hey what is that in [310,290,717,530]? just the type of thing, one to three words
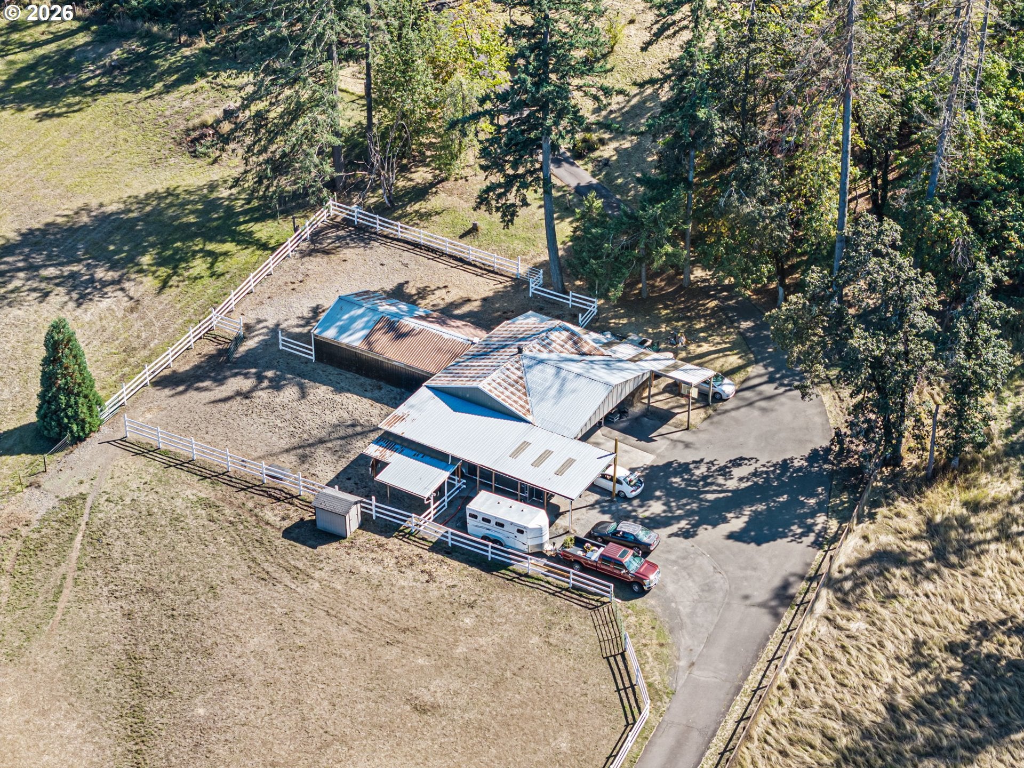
barn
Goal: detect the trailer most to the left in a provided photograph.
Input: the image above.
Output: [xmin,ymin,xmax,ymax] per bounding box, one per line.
[468,493,560,553]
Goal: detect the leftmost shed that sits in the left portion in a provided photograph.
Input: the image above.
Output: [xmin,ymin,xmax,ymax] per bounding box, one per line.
[311,489,367,540]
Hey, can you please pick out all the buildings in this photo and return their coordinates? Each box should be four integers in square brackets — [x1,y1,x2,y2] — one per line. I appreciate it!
[310,290,717,530]
[311,489,367,540]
